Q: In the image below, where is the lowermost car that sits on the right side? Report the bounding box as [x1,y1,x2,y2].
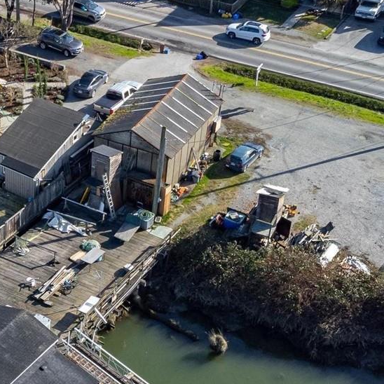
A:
[218,143,271,174]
